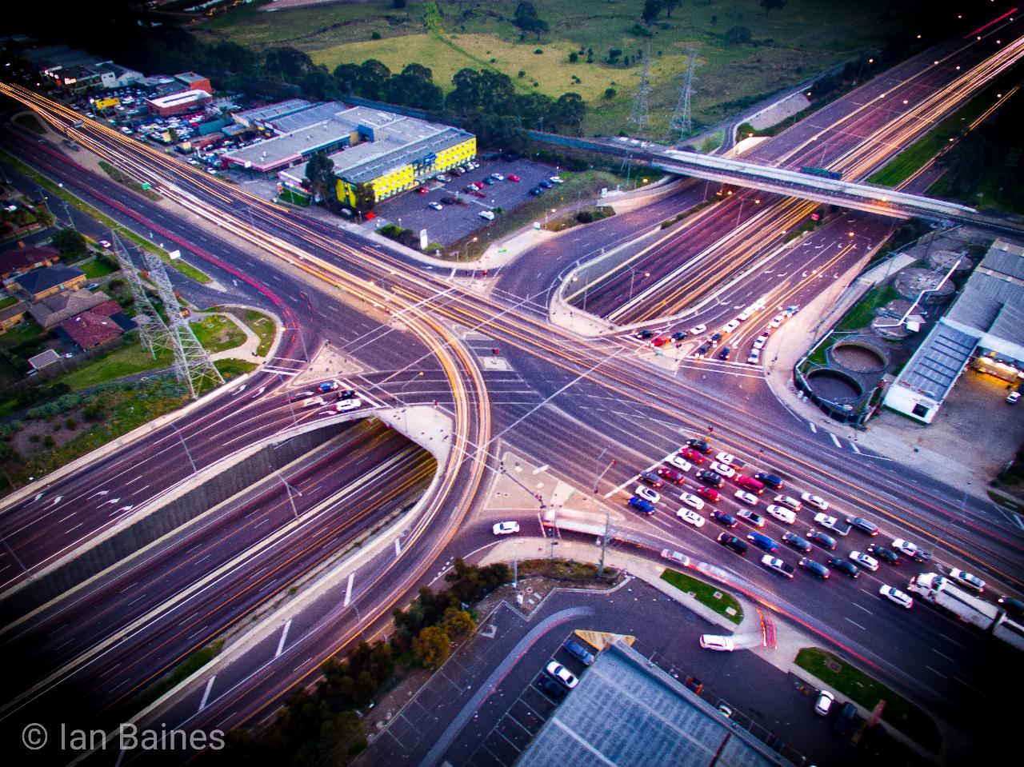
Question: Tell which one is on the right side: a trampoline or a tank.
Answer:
tank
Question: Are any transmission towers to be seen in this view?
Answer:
Yes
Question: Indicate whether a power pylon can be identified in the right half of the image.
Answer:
Yes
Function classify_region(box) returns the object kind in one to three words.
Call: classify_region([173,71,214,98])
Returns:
building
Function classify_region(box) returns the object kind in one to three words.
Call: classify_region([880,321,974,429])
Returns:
building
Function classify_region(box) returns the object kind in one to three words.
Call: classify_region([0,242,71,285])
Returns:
house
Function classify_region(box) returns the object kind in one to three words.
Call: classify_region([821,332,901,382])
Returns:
storage tank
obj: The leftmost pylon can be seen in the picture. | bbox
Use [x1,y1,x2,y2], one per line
[96,228,182,364]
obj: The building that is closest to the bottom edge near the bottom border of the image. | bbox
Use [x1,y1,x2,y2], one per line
[528,637,800,767]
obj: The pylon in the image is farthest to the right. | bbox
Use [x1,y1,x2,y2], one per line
[663,45,704,138]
